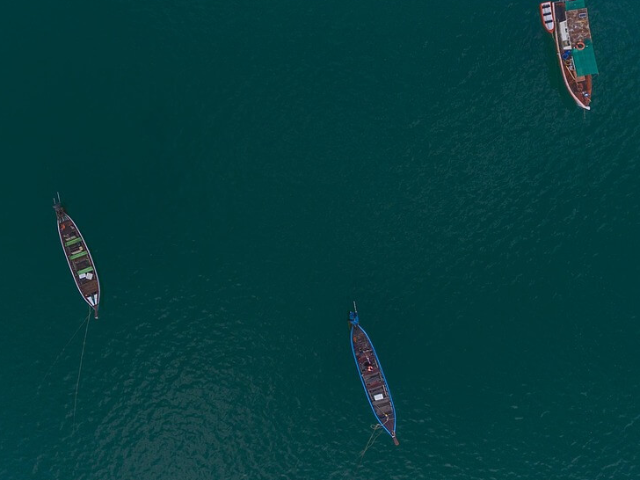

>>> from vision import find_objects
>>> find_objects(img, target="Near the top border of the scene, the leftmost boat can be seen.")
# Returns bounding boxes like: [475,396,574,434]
[539,1,554,34]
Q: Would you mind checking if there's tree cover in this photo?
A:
No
